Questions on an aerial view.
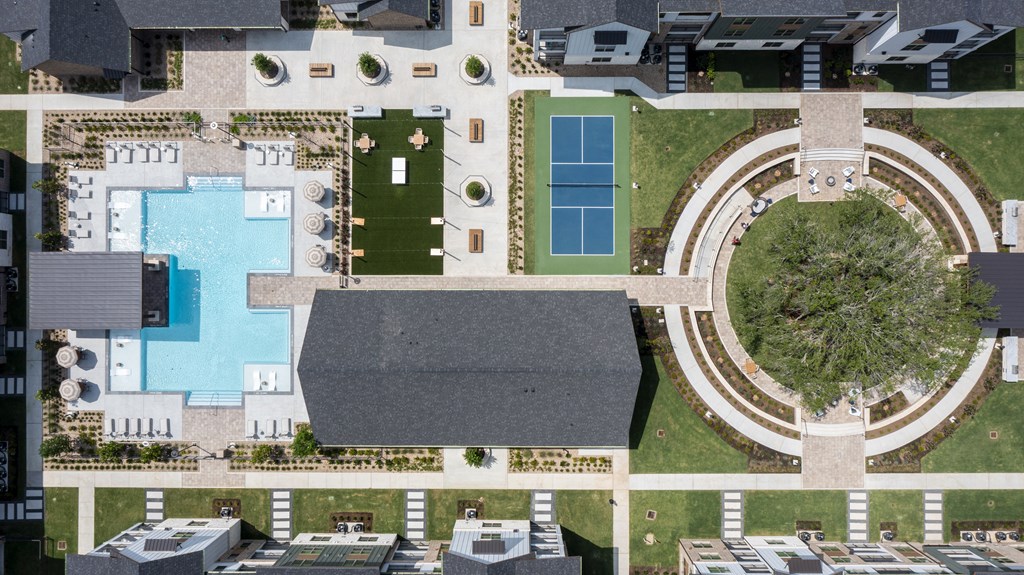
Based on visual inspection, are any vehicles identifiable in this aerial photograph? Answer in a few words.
No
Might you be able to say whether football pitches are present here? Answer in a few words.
No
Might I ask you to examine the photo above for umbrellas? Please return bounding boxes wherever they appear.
[60,379,82,399]
[305,247,327,267]
[303,213,324,234]
[57,346,79,367]
[304,181,325,201]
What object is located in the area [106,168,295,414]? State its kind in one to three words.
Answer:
swimming pool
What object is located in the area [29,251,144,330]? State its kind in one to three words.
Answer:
building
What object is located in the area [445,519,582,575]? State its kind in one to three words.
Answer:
house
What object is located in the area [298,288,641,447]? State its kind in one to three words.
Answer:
building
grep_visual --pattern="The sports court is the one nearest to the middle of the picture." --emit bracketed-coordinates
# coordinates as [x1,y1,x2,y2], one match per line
[535,97,630,275]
